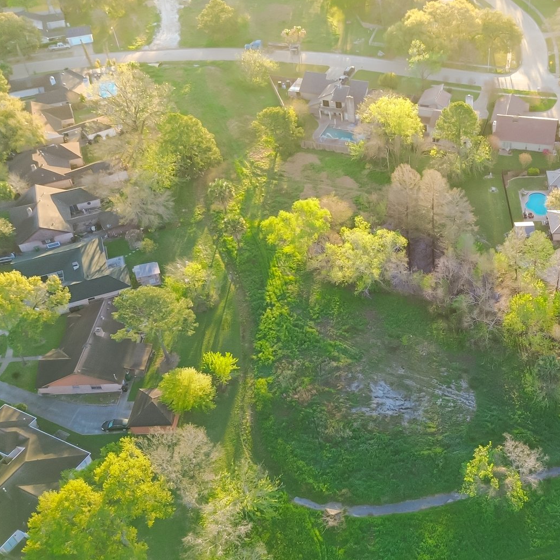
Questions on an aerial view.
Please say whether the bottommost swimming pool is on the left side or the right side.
right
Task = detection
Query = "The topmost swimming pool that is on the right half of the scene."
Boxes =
[318,122,355,141]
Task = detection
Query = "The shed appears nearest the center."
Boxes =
[135,261,160,283]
